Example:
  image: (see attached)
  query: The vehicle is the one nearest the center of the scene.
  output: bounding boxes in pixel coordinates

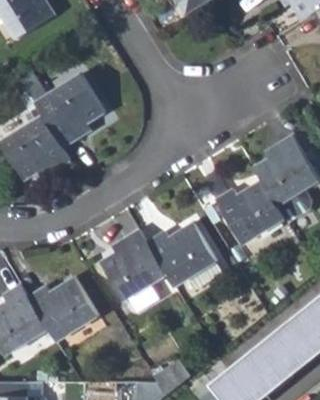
[154,172,174,188]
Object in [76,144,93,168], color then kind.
white car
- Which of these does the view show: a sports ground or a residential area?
residential area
